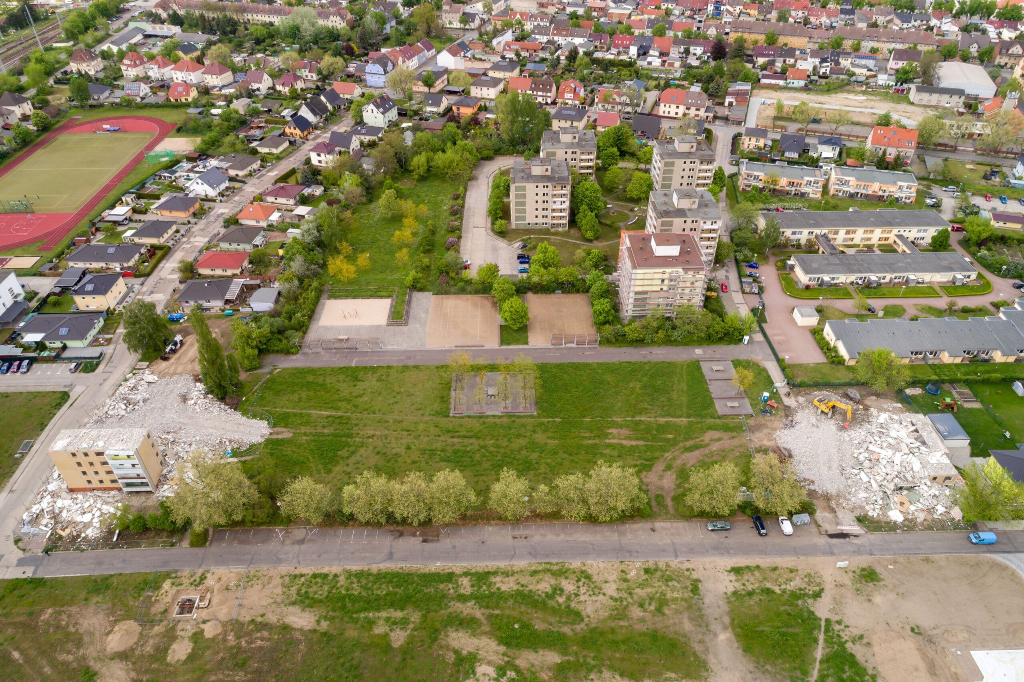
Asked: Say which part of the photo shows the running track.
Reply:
top left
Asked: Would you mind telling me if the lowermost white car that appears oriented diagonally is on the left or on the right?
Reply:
right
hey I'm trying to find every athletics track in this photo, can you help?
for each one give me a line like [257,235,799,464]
[0,120,170,252]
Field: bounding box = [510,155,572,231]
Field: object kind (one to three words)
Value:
building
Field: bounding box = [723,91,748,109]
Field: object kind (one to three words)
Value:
shed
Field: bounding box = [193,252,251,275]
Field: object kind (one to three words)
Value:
house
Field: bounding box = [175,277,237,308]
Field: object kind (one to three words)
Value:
house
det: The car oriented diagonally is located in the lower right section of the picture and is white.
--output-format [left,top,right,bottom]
[776,515,797,536]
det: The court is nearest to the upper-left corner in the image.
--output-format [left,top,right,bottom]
[426,295,500,347]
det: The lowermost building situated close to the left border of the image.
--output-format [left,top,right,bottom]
[48,428,164,494]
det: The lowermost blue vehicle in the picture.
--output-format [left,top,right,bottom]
[969,531,1000,544]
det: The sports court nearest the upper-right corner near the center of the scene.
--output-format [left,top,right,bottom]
[526,294,598,345]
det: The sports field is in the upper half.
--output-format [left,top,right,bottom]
[0,132,158,213]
